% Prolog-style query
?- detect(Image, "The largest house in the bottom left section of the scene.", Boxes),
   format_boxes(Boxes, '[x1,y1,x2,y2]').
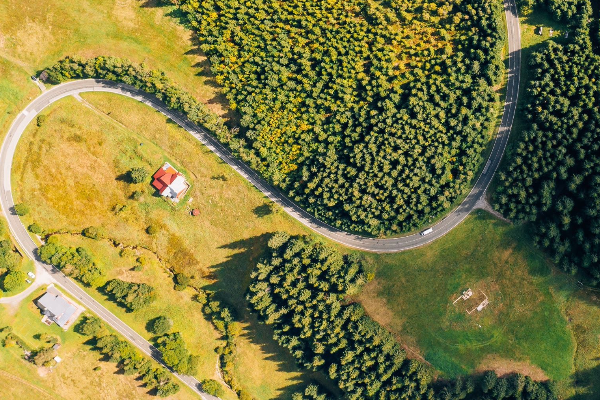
[37,283,87,331]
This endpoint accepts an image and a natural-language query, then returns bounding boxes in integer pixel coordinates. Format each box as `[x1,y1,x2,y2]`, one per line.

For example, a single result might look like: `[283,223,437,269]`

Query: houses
[37,283,87,331]
[153,162,192,206]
